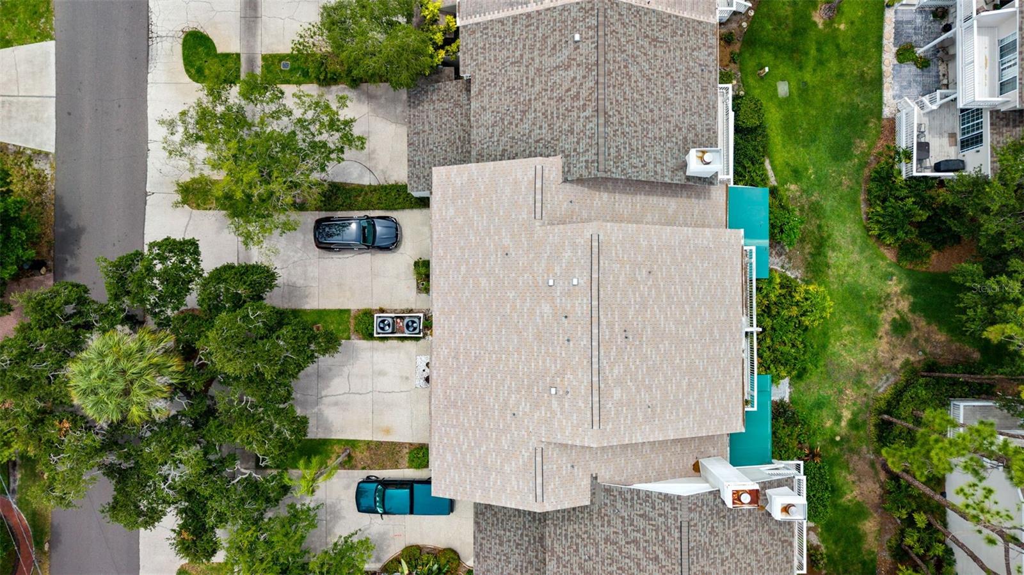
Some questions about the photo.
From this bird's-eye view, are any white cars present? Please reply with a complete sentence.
No, this view has no white car in it.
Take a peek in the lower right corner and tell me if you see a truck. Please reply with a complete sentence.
No, the scene shows no truck in the lower right corner.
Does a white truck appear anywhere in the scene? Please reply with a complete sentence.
No, I can't see a single white truck in this photo.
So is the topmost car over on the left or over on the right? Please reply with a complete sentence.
The topmost car appears in the left half of the scene.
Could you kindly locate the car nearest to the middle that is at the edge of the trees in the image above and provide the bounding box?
[315,214,401,255]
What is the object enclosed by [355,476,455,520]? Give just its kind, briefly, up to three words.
truck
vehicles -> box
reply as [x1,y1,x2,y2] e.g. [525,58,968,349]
[315,214,401,255]
[355,476,455,520]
